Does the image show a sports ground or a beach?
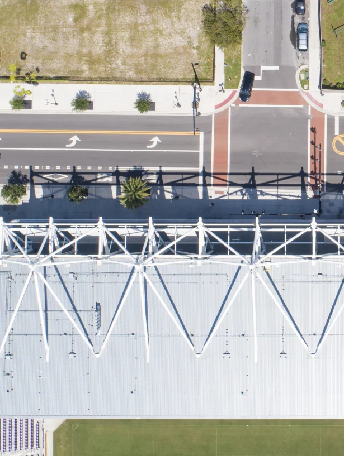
sports ground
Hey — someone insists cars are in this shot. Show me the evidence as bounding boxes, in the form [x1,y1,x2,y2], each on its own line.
[294,0,305,15]
[296,23,308,51]
[238,71,254,102]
